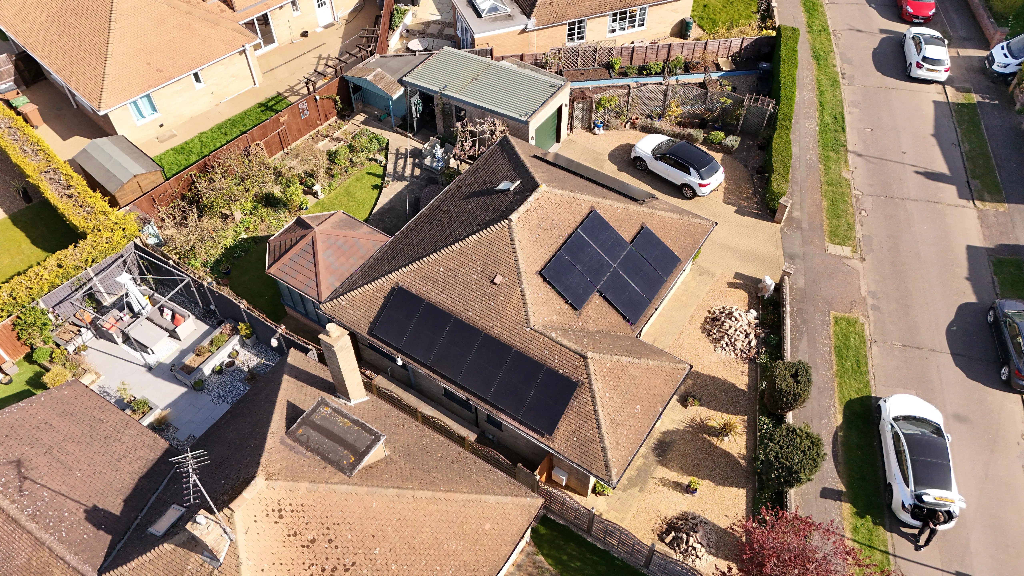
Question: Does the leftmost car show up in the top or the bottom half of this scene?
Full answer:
The leftmost car sits in the top half of the picture.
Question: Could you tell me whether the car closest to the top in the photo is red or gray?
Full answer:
From above, the car closest to the top appears red.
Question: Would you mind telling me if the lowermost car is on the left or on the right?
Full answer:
The lowermost car sits on the right side.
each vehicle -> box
[988,294,1024,399]
[893,0,936,20]
[633,134,730,204]
[986,37,1024,89]
[901,29,950,84]
[874,397,966,537]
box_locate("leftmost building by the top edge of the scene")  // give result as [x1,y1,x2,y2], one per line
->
[0,0,339,146]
